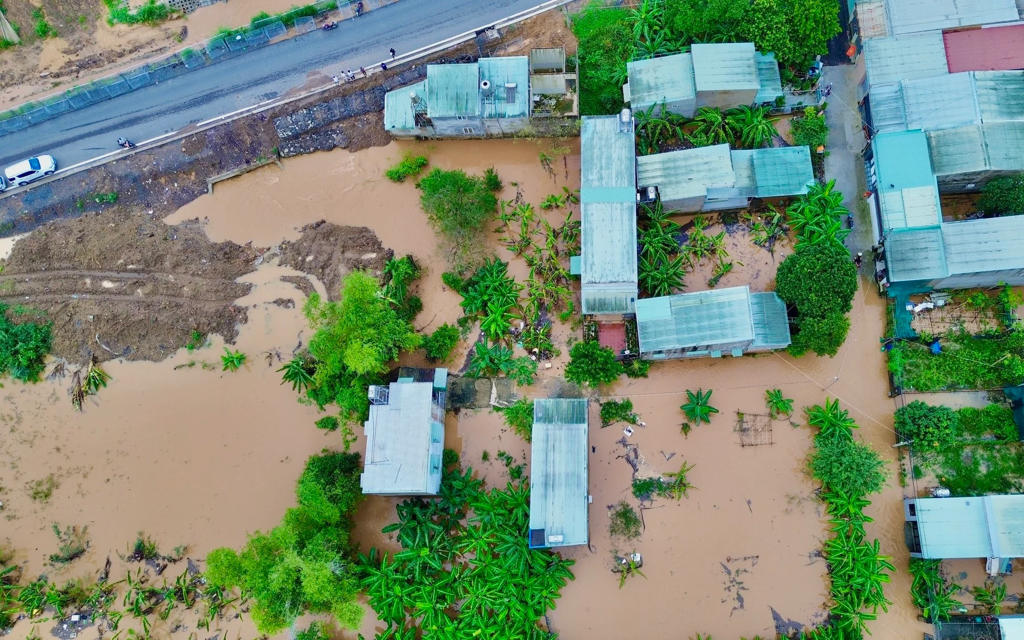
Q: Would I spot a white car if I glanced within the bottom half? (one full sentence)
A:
No, no white car is visible within the bottom half.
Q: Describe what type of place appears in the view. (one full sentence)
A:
This image shows a residential area.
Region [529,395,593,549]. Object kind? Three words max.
house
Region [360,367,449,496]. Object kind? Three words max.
house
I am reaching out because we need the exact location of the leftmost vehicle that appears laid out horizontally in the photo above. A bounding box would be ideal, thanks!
[3,160,55,190]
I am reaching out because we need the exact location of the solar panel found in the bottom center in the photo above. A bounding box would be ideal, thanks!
[529,529,545,546]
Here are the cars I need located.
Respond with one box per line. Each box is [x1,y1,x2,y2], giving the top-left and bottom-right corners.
[0,176,8,196]
[3,160,55,190]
